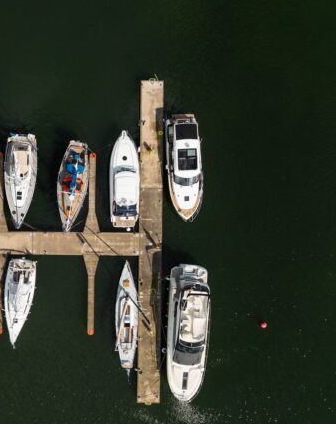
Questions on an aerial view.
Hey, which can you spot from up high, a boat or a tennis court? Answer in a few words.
boat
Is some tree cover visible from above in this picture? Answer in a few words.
No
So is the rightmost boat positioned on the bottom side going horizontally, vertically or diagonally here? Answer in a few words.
vertically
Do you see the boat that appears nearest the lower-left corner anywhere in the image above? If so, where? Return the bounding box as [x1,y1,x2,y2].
[1,256,38,351]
